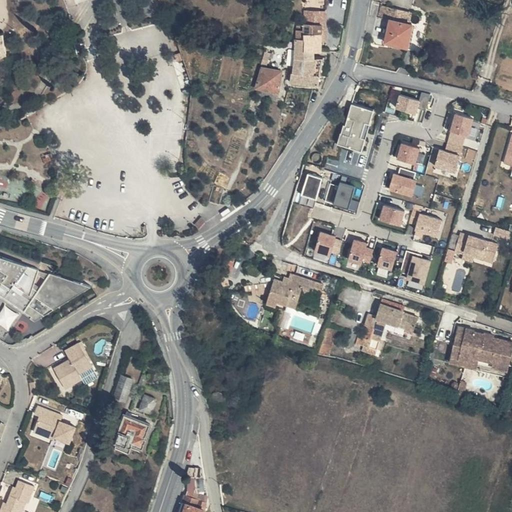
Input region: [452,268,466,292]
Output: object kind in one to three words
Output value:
swimming pool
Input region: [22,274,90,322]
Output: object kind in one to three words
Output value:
building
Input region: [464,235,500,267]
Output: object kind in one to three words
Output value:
house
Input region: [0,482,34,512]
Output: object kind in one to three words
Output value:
house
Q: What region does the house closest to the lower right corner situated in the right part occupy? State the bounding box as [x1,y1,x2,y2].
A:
[450,326,512,376]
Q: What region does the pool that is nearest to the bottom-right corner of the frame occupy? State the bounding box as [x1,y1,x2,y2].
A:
[474,378,493,392]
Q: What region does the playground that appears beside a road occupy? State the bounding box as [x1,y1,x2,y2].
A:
[0,176,48,214]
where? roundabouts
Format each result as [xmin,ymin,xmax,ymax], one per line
[129,246,189,306]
